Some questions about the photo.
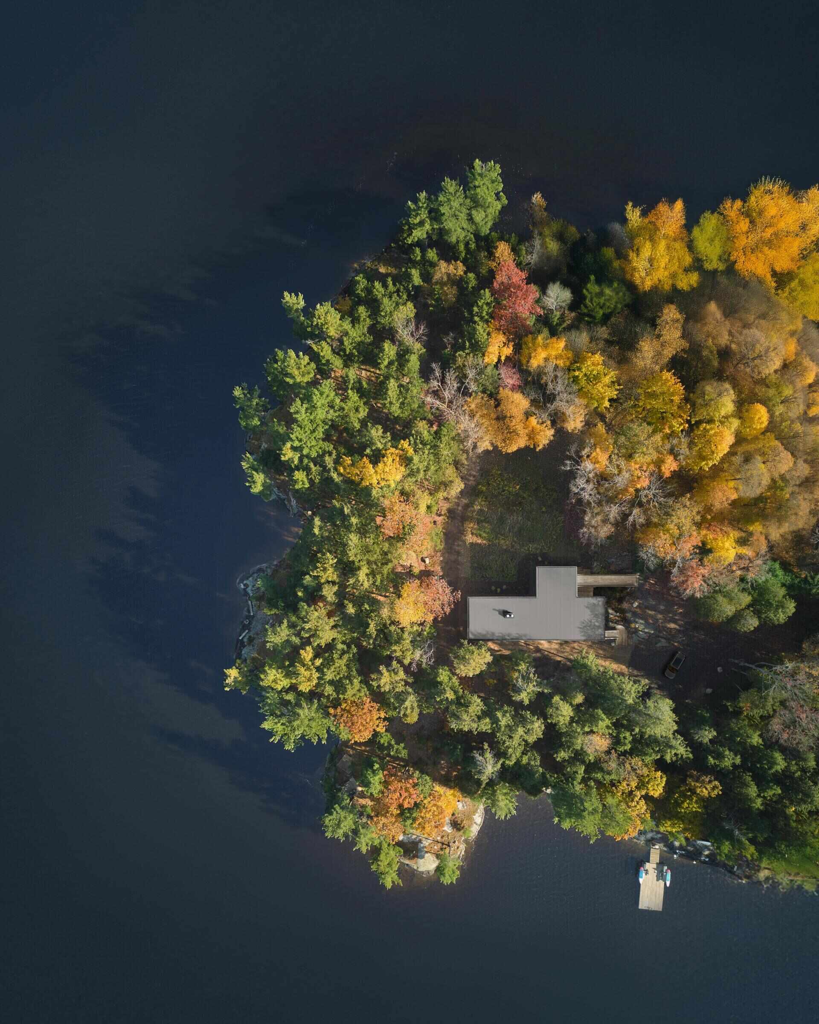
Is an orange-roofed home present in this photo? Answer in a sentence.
No, no orange-roofed home can be seen from above.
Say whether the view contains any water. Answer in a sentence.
Yes, there is water in the image.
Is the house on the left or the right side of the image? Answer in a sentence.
It is on the right.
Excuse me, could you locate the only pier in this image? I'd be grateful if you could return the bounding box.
[638,848,666,912]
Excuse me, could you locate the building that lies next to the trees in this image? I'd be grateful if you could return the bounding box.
[468,567,605,640]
